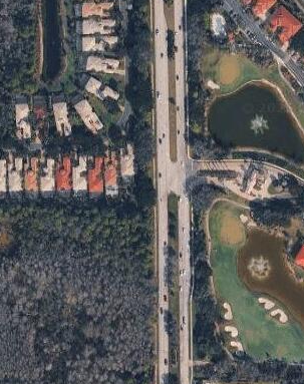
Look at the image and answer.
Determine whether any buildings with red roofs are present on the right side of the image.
Yes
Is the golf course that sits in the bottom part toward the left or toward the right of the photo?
right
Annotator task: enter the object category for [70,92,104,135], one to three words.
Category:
house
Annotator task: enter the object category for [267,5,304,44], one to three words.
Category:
house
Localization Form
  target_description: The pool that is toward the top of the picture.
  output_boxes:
[211,15,225,37]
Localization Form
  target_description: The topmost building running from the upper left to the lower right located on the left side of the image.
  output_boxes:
[77,70,119,106]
